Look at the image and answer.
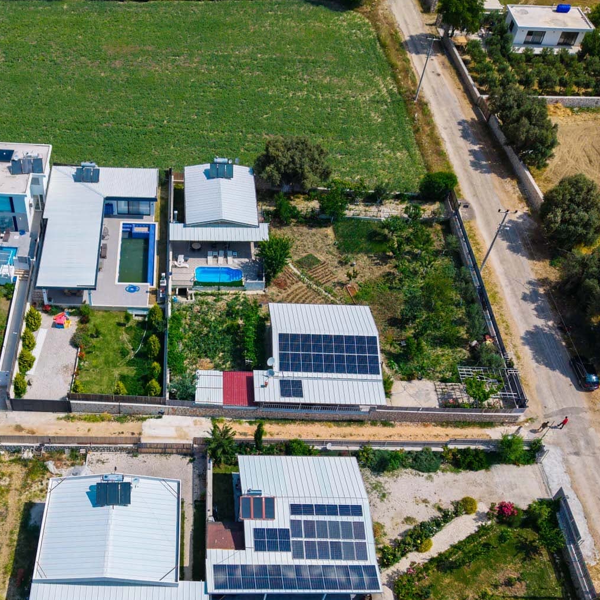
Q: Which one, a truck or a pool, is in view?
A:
pool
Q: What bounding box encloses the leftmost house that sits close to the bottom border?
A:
[29,472,208,600]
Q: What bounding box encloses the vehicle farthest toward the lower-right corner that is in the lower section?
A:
[565,357,600,393]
